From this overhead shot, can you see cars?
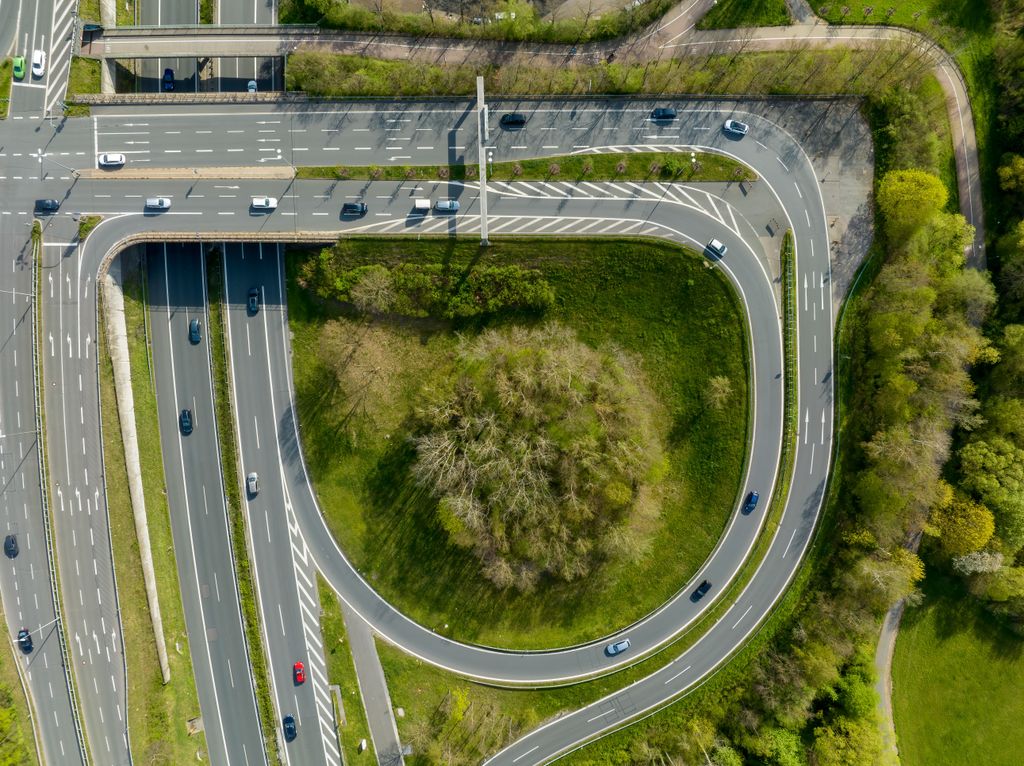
Yes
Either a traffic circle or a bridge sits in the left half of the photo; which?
bridge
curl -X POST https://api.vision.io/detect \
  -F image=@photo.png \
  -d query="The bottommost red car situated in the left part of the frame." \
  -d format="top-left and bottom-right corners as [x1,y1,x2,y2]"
[293,661,305,684]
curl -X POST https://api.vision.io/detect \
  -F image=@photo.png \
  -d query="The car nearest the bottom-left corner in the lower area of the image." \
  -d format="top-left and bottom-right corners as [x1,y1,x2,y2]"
[18,630,33,652]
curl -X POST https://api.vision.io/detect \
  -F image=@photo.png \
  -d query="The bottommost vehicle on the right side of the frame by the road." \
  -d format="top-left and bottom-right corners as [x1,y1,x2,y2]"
[606,639,631,655]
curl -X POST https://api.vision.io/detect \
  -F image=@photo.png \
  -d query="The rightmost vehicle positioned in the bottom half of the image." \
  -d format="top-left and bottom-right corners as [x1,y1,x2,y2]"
[743,491,760,514]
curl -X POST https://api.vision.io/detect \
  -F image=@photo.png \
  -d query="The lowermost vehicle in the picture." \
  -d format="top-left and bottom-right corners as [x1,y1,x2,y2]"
[283,715,296,741]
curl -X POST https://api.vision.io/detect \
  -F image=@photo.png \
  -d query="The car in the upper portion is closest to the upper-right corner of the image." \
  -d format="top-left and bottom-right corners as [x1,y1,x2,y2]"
[725,120,748,135]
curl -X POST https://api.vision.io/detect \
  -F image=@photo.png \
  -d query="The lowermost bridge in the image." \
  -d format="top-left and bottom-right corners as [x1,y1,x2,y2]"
[68,90,339,280]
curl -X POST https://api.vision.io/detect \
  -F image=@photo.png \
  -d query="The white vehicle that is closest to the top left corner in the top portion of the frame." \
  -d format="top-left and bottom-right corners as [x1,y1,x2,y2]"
[30,51,46,77]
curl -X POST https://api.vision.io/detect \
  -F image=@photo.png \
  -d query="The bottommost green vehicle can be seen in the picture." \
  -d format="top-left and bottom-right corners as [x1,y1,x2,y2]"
[11,57,26,80]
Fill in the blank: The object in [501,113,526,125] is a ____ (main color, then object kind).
black vehicle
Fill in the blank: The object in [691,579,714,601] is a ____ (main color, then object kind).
black car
